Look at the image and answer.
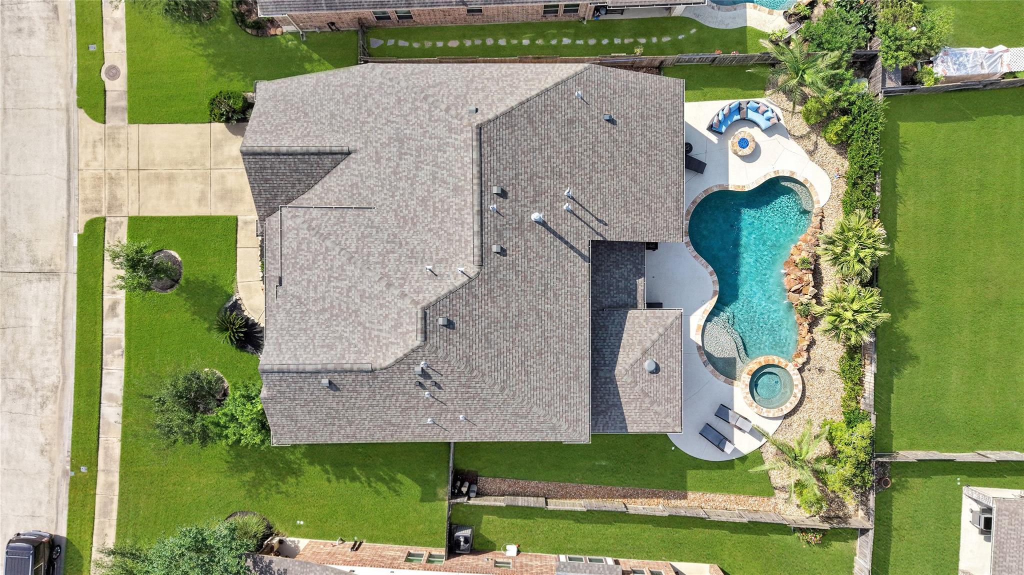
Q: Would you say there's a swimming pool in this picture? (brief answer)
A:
Yes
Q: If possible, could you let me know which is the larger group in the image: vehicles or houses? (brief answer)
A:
houses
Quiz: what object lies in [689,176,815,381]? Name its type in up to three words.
swimming pool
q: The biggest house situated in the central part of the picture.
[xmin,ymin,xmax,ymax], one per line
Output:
[240,60,687,445]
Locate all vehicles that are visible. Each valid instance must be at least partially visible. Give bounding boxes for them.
[7,526,62,575]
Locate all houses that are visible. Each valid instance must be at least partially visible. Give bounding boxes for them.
[244,536,729,575]
[240,60,687,445]
[967,487,1024,575]
[254,0,709,41]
